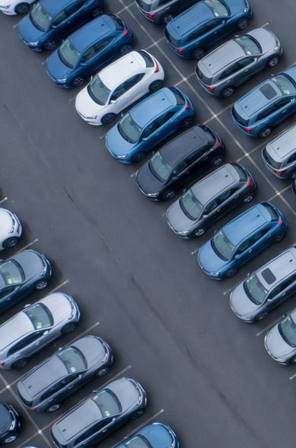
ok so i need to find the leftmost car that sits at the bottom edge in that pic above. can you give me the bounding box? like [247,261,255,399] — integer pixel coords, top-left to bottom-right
[0,400,27,448]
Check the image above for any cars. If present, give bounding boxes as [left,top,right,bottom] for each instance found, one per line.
[0,207,25,254]
[12,334,116,417]
[259,125,296,182]
[0,250,56,317]
[137,125,227,200]
[46,376,151,448]
[133,0,201,26]
[0,292,84,374]
[76,50,166,124]
[46,14,137,87]
[264,308,296,364]
[0,400,27,448]
[166,163,258,239]
[199,202,289,279]
[115,422,183,448]
[228,68,296,139]
[107,88,196,162]
[18,0,107,50]
[193,29,284,100]
[163,0,253,62]
[229,245,296,322]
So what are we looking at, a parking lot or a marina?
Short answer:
parking lot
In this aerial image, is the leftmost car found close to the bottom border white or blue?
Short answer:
blue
